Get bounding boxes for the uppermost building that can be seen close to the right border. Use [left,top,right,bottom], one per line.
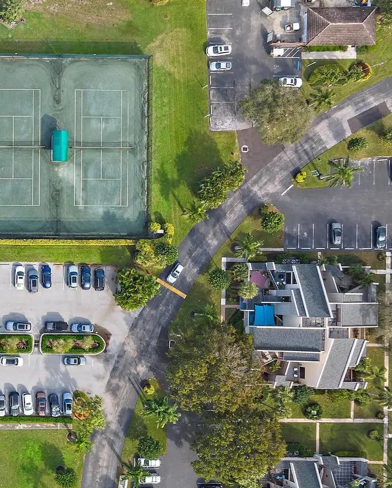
[305,3,385,46]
